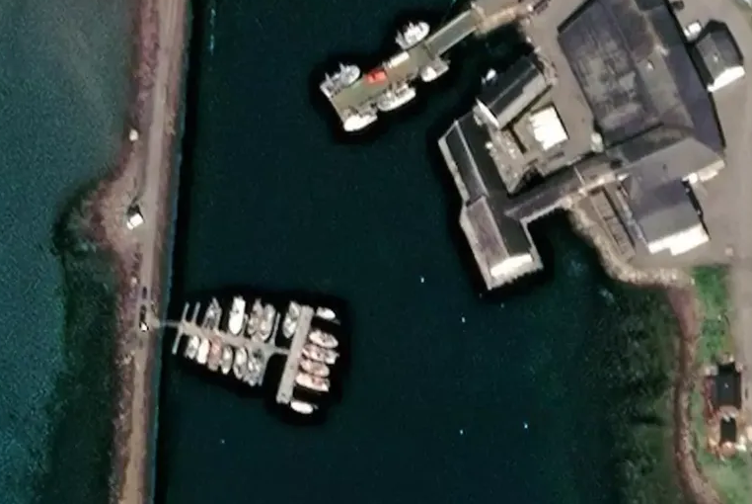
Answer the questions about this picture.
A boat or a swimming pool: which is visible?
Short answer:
boat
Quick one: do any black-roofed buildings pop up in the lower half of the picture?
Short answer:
Yes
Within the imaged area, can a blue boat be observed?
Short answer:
No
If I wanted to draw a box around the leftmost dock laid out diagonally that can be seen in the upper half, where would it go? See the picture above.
[326,35,440,127]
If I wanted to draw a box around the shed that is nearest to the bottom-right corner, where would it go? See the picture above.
[722,418,736,446]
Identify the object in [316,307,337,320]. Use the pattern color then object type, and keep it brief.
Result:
white boat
